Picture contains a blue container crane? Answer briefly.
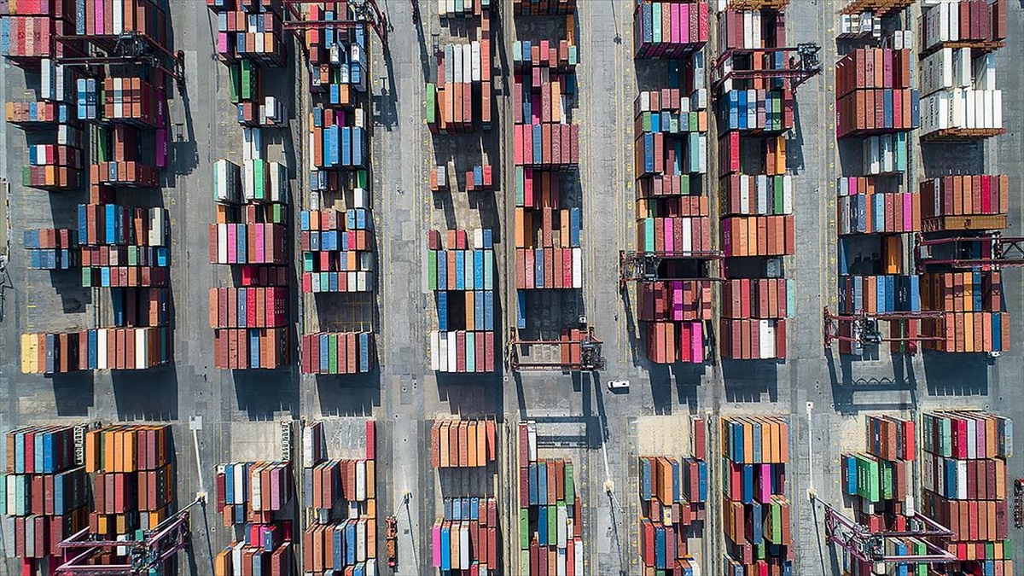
No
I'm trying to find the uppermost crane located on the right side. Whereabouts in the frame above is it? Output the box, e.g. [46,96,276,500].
[712,43,822,99]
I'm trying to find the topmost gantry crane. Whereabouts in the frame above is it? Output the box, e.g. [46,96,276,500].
[277,0,385,52]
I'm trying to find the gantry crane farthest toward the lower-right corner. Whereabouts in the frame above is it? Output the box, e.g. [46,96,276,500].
[826,503,957,565]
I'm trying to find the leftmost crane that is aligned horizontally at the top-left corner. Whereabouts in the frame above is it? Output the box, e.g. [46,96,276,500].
[48,30,180,87]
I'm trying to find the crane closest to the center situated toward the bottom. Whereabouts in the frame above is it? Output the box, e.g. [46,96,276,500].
[507,328,607,373]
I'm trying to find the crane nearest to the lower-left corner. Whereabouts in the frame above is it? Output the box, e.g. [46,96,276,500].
[59,510,189,574]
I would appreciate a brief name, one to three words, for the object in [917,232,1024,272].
container crane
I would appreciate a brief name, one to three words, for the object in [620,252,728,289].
container crane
